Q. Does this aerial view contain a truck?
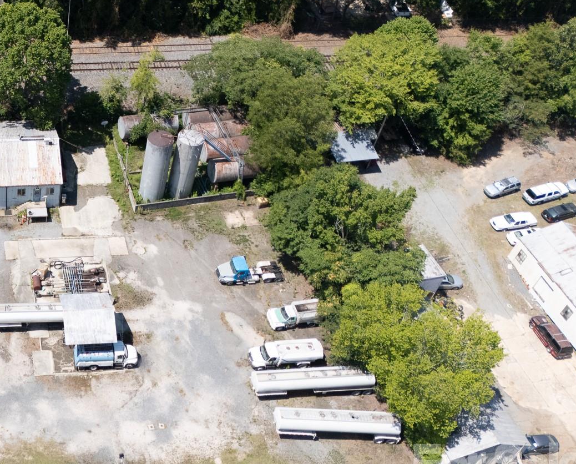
Yes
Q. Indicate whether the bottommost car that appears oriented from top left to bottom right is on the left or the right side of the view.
right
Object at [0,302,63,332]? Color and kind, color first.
white trailer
